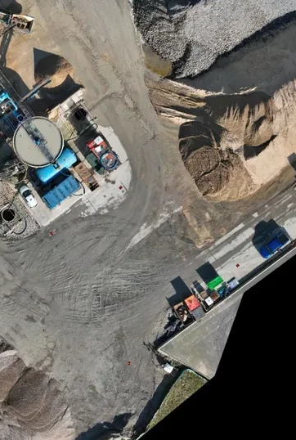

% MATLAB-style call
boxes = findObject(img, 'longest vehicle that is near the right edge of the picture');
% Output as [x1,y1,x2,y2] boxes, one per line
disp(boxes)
[254,225,293,255]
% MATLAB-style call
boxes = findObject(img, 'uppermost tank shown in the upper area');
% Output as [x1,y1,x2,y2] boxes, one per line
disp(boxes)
[12,116,64,168]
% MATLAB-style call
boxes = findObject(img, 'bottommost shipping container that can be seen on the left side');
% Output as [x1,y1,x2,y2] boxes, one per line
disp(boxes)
[42,176,79,209]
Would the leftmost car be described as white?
Yes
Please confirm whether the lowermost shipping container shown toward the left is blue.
Yes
